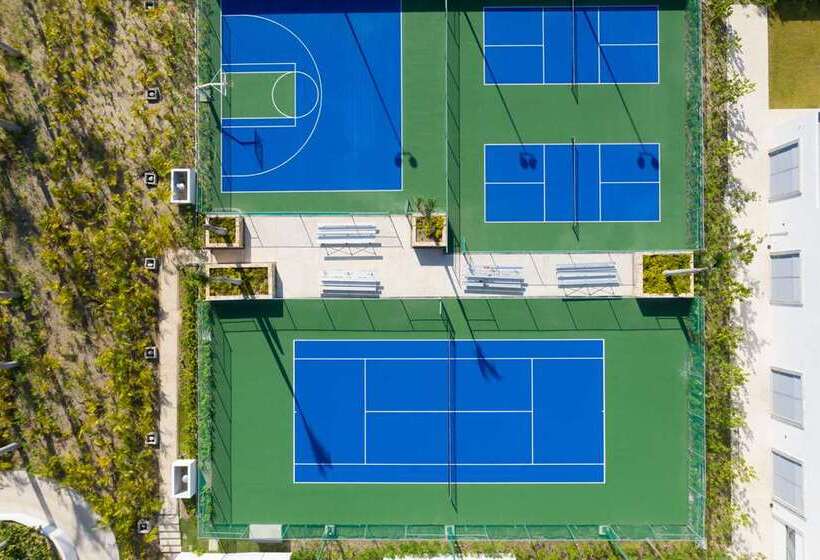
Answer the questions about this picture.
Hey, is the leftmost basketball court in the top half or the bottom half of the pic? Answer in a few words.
top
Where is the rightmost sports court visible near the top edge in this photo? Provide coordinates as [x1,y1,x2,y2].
[484,6,660,83]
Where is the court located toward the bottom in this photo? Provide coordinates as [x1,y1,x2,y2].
[199,300,704,539]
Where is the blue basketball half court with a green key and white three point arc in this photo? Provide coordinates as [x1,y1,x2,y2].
[199,0,446,216]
